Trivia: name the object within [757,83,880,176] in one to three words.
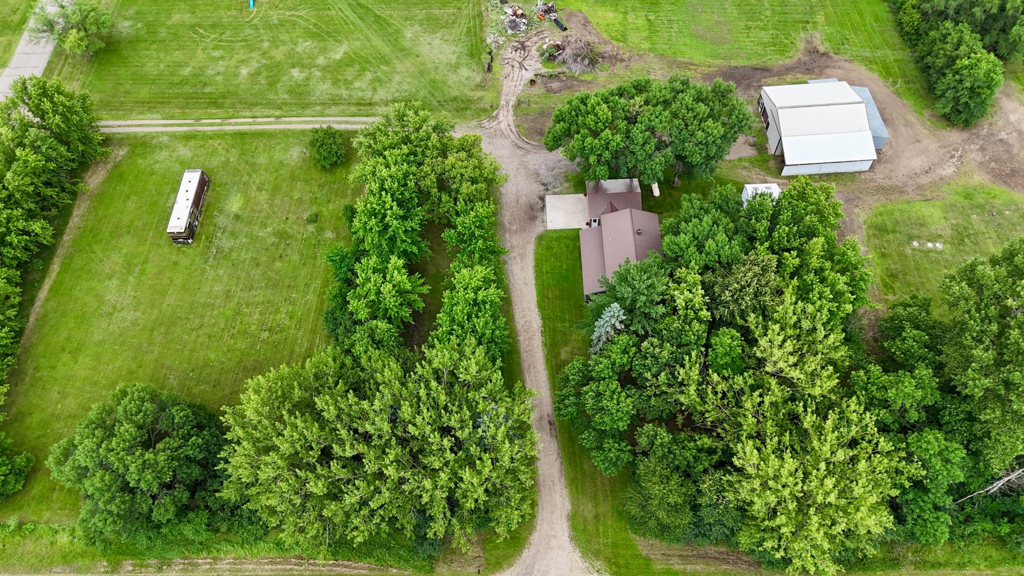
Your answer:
barn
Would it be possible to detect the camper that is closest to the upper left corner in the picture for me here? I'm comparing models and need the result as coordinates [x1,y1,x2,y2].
[167,170,210,247]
